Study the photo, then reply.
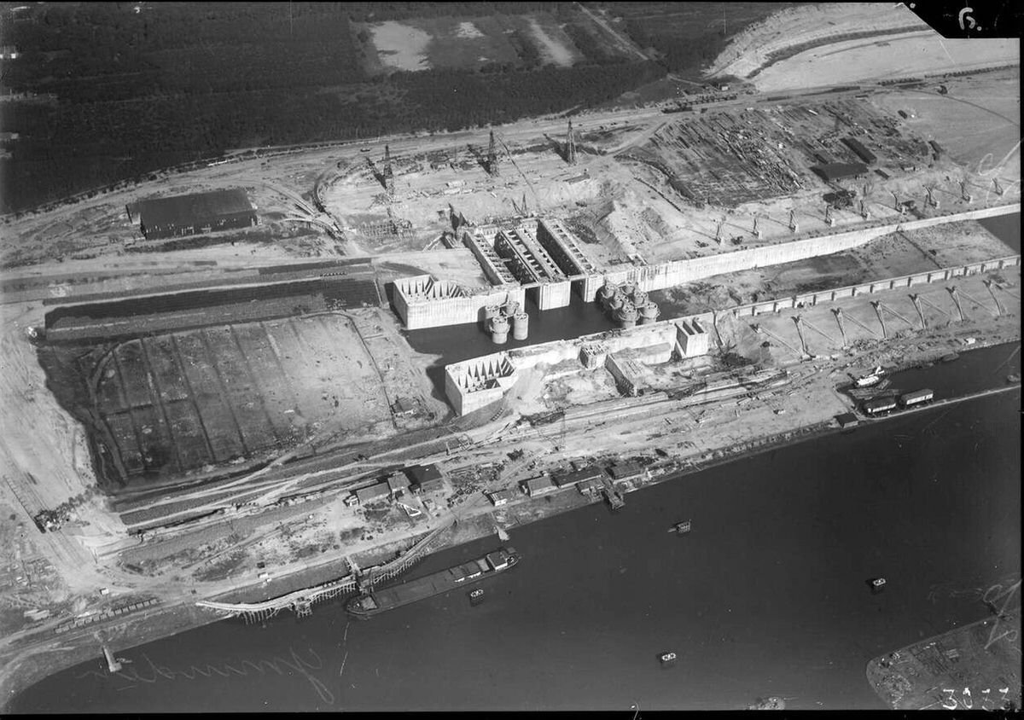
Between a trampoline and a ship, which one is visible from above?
ship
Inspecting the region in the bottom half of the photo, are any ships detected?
Yes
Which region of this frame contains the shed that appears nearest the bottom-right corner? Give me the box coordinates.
[831,408,861,429]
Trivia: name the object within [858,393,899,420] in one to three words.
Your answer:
boat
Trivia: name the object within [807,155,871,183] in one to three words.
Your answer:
shed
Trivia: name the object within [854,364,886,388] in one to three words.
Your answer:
boat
